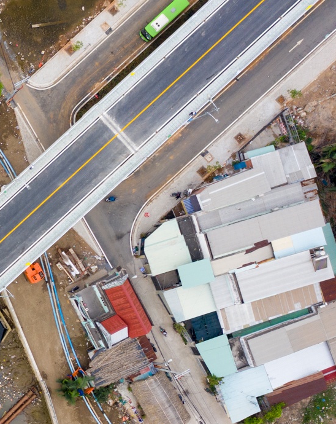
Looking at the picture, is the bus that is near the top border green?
Yes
